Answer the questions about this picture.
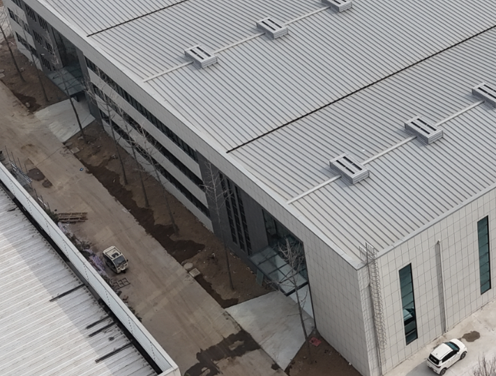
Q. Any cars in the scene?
Yes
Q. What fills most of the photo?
buildings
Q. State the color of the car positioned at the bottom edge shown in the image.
white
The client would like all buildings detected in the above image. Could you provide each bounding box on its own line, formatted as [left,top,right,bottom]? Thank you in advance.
[3,0,496,376]
[0,162,178,376]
